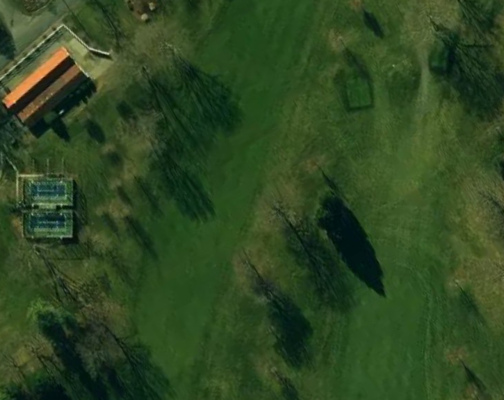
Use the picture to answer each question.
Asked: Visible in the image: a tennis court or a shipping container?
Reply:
tennis court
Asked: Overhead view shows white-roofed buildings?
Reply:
No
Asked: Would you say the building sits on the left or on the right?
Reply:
left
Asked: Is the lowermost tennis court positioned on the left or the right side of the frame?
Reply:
left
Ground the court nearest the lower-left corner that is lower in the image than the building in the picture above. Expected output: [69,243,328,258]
[23,209,73,237]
